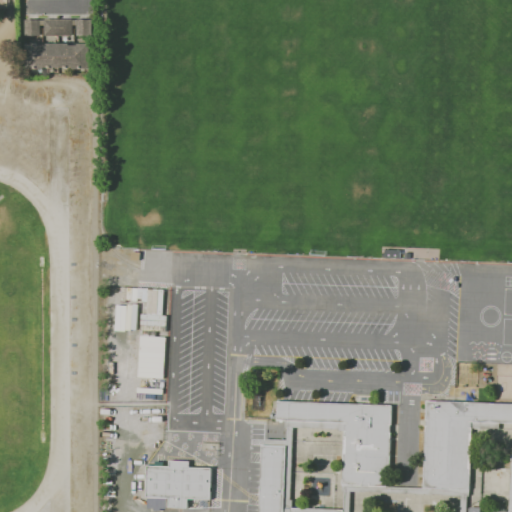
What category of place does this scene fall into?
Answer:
sports ground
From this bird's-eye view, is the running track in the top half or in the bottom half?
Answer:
bottom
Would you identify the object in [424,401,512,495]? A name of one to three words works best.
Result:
building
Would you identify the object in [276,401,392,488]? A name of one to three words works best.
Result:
building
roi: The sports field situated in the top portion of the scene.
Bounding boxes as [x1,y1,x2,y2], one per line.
[104,0,512,264]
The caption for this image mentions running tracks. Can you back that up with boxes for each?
[0,162,70,512]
